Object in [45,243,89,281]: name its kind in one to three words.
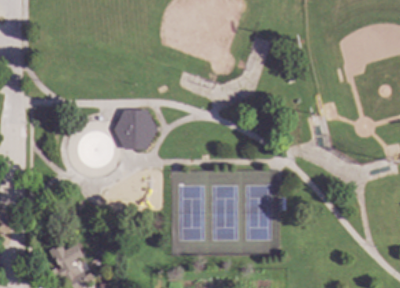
house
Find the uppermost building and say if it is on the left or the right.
left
